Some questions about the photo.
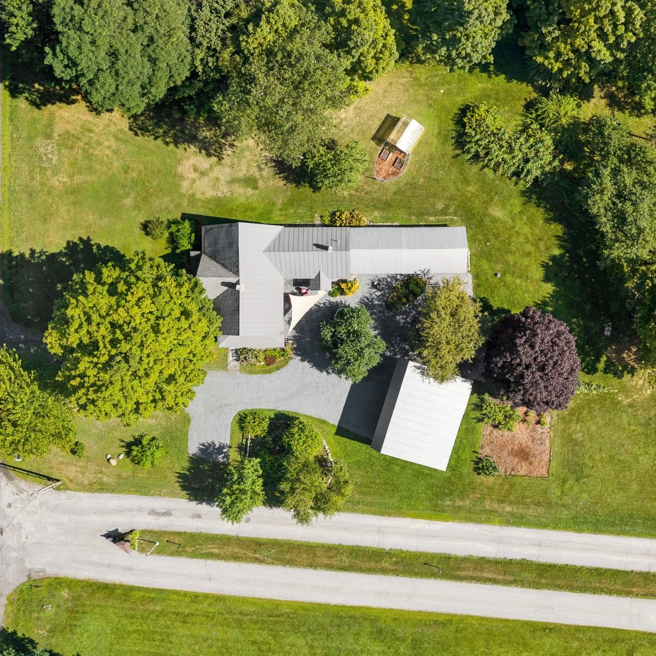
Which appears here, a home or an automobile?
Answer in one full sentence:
I can see a home in this picture.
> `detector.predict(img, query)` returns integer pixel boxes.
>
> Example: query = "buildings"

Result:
[387,114,425,156]
[370,359,473,472]
[190,223,468,347]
